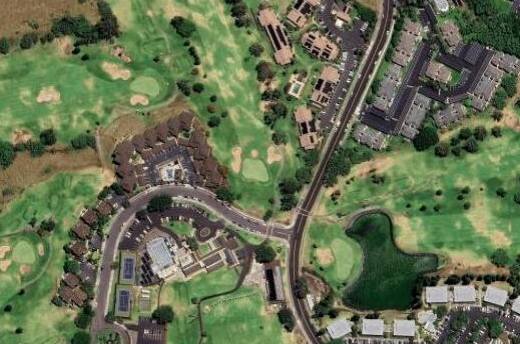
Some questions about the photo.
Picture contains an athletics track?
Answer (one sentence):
No, no athletics track is visible in the scene.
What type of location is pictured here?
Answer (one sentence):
The area seen from above is a golf course.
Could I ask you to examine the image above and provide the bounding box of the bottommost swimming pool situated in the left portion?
[161,163,176,182]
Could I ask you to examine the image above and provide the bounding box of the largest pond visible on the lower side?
[344,209,439,312]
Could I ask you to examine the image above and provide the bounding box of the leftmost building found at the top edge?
[257,6,294,66]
